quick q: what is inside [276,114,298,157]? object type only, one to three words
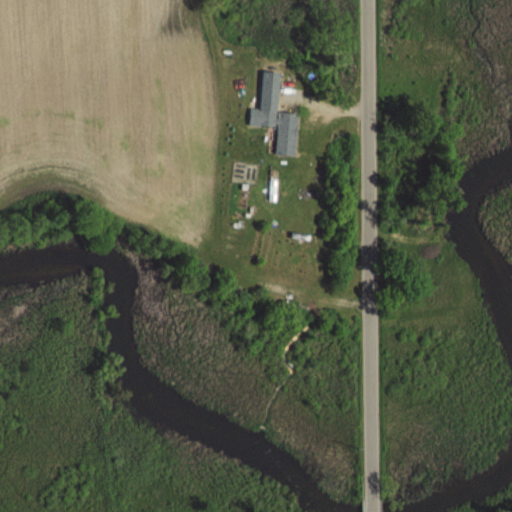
building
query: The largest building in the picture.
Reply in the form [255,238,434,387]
[248,70,282,127]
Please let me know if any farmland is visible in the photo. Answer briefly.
Yes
